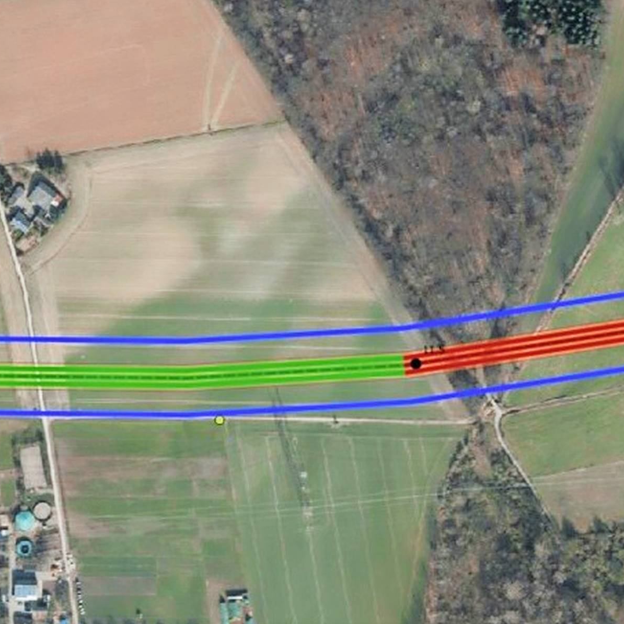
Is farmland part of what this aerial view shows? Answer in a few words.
Yes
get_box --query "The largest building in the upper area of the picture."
[26,179,57,211]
